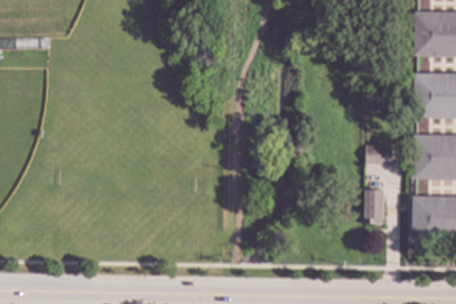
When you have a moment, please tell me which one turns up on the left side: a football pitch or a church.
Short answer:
football pitch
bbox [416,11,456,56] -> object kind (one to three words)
building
